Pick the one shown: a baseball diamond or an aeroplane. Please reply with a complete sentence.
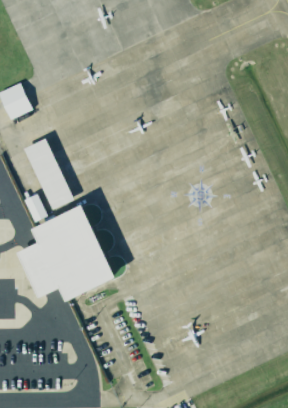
Visible in the photo is an aeroplane.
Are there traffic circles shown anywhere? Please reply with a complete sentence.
No, I can't see a single traffic circle in this photo.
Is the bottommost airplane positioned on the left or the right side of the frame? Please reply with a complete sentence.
The bottommost airplane sits on the right side.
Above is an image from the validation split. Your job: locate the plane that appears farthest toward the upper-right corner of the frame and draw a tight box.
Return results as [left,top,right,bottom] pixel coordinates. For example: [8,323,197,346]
[218,99,232,120]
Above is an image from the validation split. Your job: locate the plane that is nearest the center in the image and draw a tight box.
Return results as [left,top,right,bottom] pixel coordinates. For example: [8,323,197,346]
[128,116,152,134]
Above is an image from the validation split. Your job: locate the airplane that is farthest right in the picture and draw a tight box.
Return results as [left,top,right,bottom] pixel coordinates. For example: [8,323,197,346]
[252,170,268,191]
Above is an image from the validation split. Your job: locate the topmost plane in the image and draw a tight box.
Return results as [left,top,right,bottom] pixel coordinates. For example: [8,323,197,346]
[98,8,113,28]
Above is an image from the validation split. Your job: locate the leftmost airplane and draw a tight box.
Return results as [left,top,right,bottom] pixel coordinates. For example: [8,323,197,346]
[82,66,102,83]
